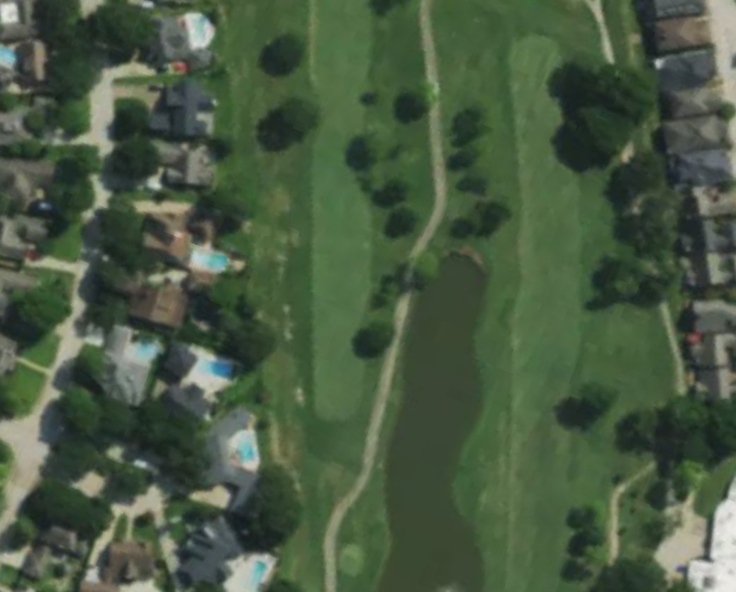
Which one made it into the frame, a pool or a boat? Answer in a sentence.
It is a pool that can be seen here.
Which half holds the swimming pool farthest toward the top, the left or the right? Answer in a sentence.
The swimming pool farthest toward the top sits on the left side.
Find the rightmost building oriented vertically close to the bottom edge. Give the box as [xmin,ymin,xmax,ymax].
[688,480,736,592]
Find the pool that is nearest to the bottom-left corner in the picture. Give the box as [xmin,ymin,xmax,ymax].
[224,552,277,592]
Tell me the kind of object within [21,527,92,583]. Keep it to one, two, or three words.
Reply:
house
